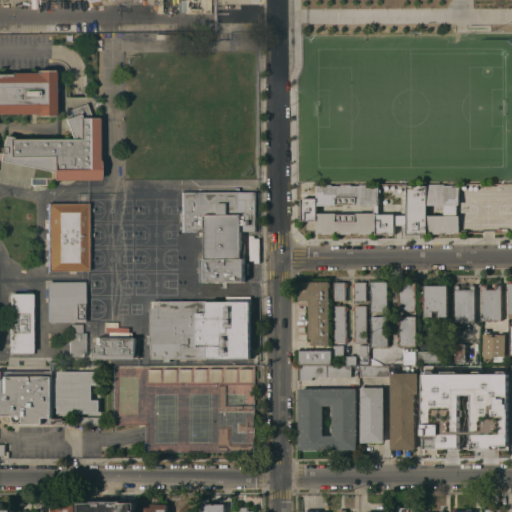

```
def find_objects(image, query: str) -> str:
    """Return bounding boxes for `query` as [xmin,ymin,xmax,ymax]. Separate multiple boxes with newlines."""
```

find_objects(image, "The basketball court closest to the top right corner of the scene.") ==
[462,186,512,231]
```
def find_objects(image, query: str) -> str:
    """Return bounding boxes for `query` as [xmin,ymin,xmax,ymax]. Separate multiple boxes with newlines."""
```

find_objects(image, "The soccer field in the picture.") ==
[297,34,512,182]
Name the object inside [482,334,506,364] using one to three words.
house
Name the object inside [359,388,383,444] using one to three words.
building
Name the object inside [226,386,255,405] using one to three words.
sports court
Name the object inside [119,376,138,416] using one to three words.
sports court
